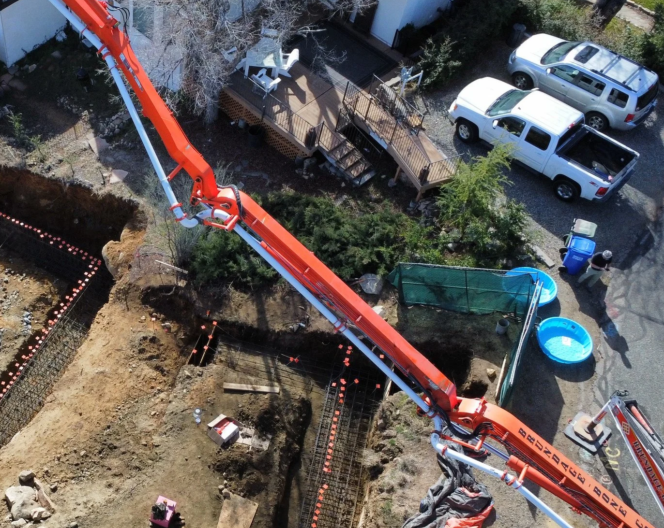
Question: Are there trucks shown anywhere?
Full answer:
Yes, there is a truck in the image.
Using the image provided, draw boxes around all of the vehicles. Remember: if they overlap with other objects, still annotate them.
[48,0,664,528]
[507,30,664,137]
[444,74,649,221]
